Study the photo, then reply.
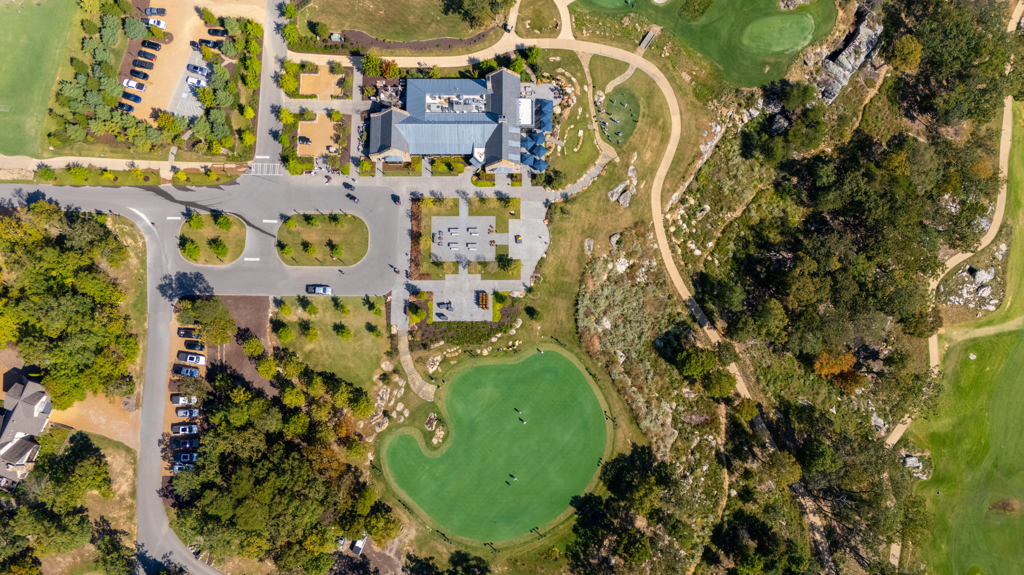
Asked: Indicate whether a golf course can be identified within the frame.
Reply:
Yes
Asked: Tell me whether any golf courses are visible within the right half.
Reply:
Yes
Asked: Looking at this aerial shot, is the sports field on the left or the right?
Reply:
left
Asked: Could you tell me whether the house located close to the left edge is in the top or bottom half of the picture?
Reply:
bottom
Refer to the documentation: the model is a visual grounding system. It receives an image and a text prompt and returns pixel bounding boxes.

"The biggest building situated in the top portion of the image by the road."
[369,67,535,175]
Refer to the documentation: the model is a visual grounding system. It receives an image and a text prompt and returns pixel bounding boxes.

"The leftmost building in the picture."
[0,376,55,494]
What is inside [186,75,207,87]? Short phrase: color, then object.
white vehicle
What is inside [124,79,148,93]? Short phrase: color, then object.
white vehicle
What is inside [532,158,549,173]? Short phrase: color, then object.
blue umbrella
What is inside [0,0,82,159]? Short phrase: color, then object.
green sports field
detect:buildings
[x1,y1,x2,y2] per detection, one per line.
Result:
[0,376,55,494]
[369,67,535,175]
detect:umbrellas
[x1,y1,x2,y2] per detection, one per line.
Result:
[521,136,535,151]
[532,144,548,159]
[532,132,546,145]
[532,158,549,173]
[541,120,553,131]
[522,154,534,166]
[541,99,553,110]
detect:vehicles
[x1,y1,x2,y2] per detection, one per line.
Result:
[352,534,368,557]
[177,330,204,341]
[347,193,359,204]
[173,366,201,377]
[116,100,137,114]
[199,38,220,50]
[131,58,156,71]
[122,91,143,104]
[177,407,200,418]
[130,68,150,81]
[171,438,199,449]
[505,23,513,35]
[179,353,206,365]
[307,285,334,295]
[394,194,402,206]
[124,79,148,93]
[189,39,201,52]
[208,28,228,38]
[170,396,198,406]
[146,6,167,17]
[185,341,208,351]
[344,183,356,193]
[187,63,208,75]
[328,146,339,155]
[172,424,200,436]
[142,39,162,51]
[143,17,166,29]
[298,136,312,146]
[138,50,158,61]
[186,75,207,87]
